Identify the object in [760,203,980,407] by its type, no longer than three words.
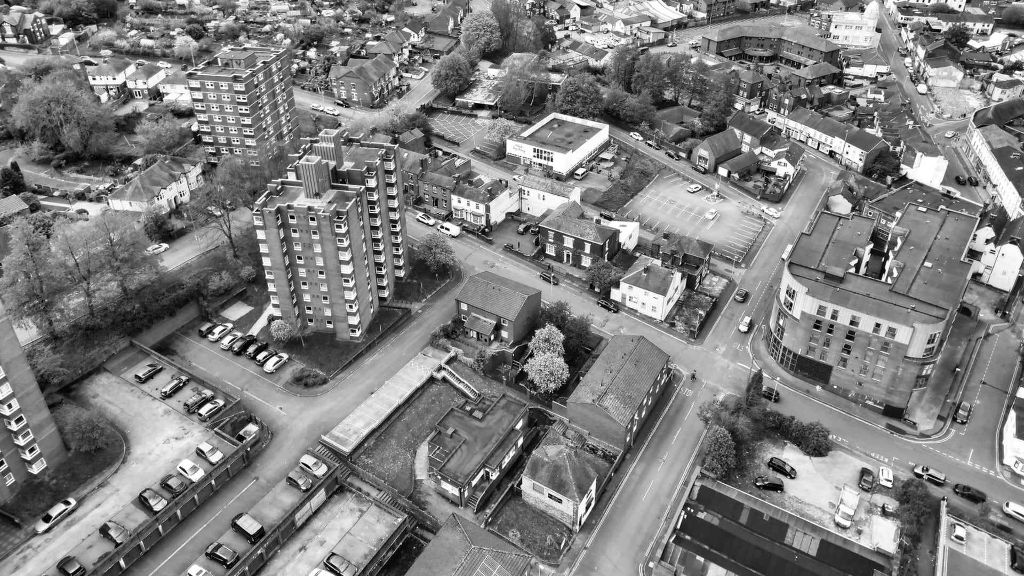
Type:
building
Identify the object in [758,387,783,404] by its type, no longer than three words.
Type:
car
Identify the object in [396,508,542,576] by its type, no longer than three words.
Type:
house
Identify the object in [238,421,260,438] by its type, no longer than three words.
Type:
vehicle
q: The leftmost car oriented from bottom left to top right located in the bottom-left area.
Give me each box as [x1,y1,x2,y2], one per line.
[39,501,73,531]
